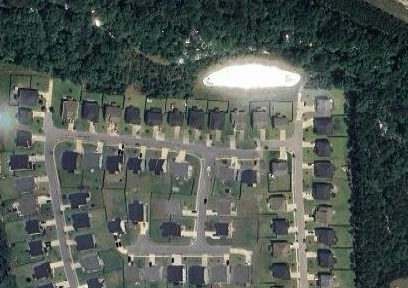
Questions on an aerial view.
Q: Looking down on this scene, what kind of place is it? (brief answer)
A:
residential area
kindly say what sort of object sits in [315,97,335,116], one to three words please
house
